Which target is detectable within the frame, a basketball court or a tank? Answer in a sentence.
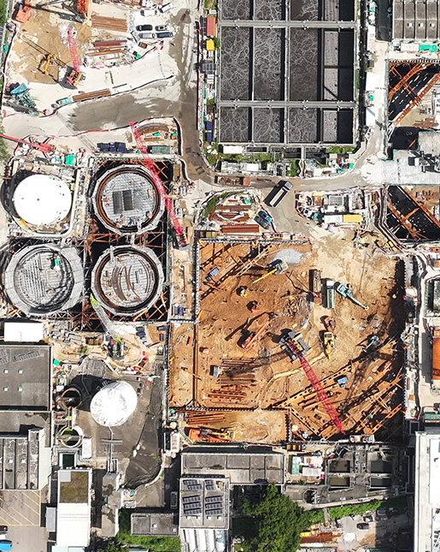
I can see a tank in this picture.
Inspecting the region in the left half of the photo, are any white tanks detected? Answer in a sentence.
Yes, a white tank can be seen in the left half of the photo.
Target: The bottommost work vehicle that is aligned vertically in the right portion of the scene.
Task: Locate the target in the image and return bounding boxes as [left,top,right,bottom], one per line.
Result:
[322,330,335,358]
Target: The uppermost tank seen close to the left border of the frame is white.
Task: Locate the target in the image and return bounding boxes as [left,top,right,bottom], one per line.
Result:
[11,169,81,230]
